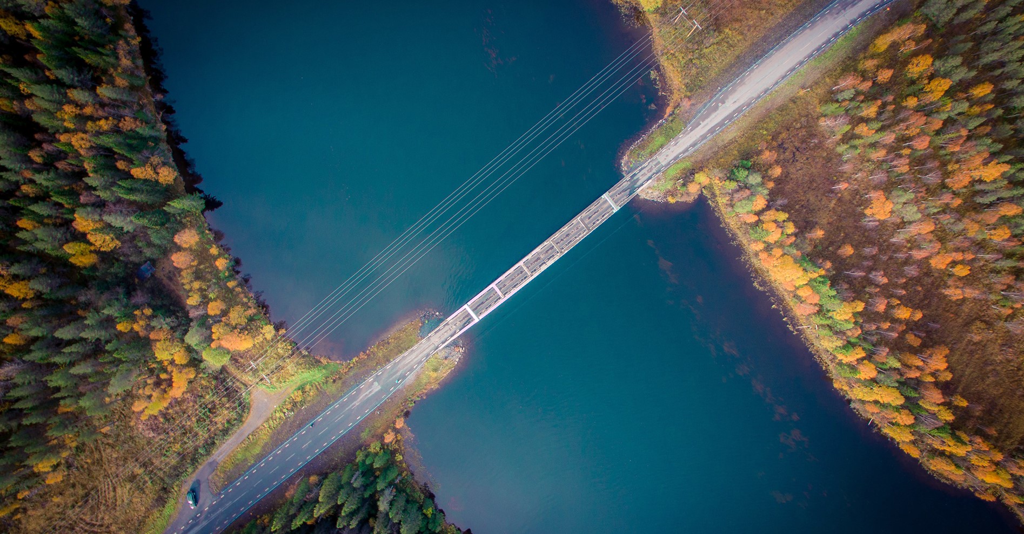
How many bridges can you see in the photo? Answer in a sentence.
In total, 1 bridge can be seen.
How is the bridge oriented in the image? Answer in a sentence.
In this picture, the bridge is oriented diagonally.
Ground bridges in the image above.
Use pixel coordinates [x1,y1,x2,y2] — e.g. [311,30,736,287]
[429,165,650,353]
